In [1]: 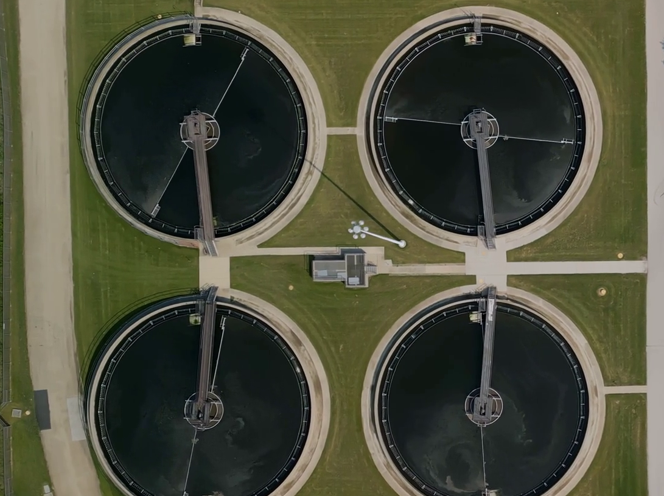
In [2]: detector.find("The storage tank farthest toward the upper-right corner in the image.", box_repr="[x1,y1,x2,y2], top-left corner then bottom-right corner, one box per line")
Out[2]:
[357,8,601,252]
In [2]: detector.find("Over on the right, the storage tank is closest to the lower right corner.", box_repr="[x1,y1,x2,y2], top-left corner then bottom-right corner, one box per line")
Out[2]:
[363,285,605,496]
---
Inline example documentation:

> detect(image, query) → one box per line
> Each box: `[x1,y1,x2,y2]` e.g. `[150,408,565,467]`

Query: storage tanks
[87,288,329,496]
[83,10,324,253]
[357,8,601,252]
[363,285,605,496]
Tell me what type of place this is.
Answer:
industrial area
